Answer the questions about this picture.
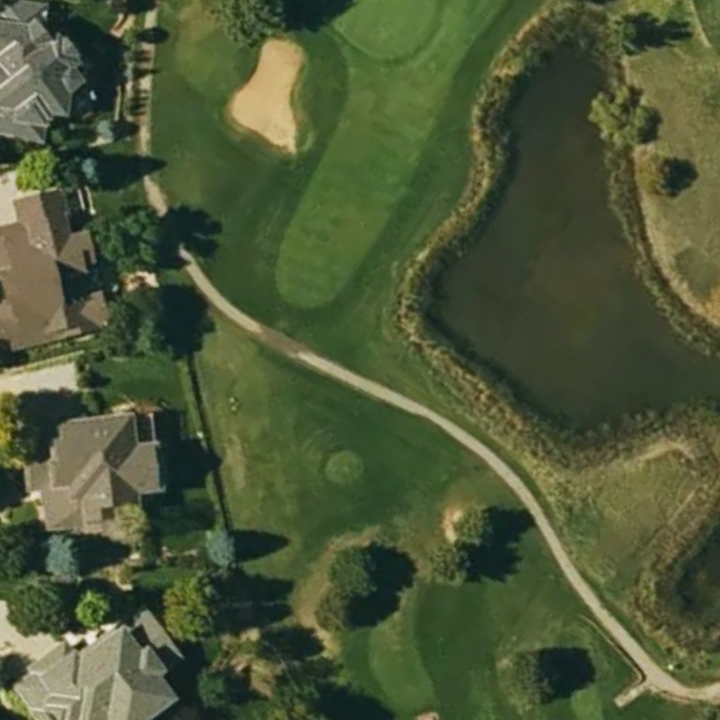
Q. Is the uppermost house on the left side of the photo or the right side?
left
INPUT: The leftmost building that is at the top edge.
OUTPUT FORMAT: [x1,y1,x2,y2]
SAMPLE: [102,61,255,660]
[0,0,91,151]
